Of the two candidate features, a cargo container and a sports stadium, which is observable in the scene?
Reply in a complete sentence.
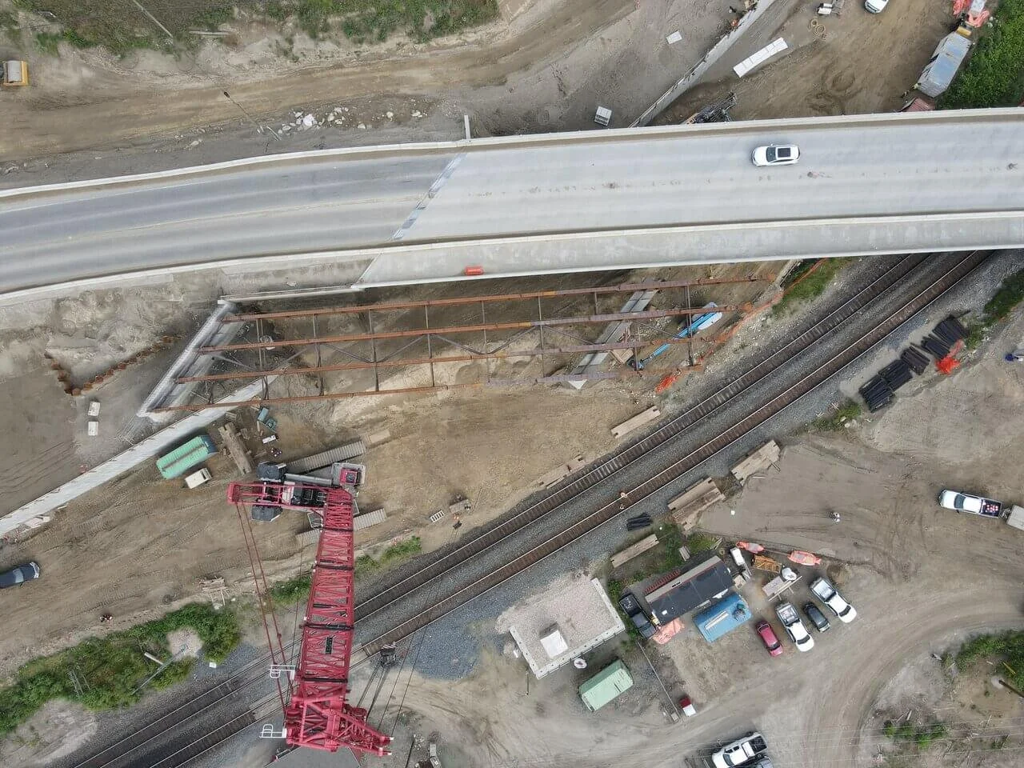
There is a cargo container in the scene.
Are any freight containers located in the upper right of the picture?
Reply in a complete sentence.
Yes, in the upper right of the picture there is a freight container.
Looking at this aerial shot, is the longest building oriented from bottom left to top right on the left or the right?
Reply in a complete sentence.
The longest building oriented from bottom left to top right is on the right side of the image.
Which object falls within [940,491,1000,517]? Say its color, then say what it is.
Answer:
white truck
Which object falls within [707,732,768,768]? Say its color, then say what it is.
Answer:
white truck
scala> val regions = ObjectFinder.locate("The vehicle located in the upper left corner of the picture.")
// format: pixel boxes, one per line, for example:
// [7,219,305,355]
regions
[0,61,31,88]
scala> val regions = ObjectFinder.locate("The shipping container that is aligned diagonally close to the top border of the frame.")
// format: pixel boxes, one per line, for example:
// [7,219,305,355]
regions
[907,35,972,100]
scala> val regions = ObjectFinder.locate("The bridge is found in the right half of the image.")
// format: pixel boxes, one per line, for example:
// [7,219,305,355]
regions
[355,108,1024,288]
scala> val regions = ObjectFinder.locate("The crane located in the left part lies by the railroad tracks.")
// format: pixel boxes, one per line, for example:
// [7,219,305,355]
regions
[226,443,460,763]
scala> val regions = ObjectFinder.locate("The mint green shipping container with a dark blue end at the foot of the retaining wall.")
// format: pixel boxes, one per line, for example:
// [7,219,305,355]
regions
[158,434,222,479]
